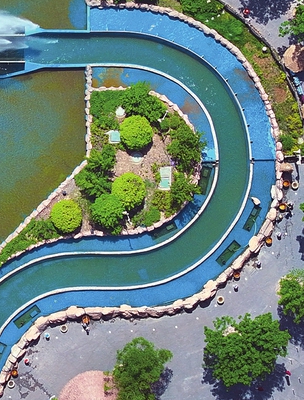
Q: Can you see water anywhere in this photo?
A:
Yes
